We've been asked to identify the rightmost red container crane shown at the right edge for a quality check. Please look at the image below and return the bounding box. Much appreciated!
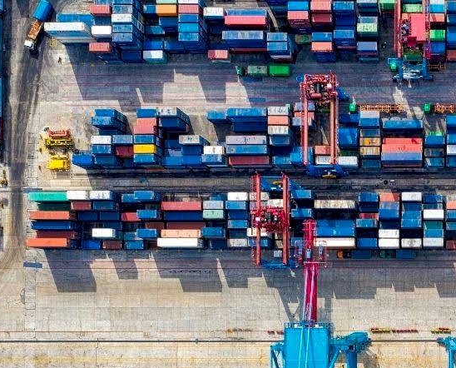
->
[392,0,438,79]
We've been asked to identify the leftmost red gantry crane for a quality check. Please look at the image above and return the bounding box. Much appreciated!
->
[251,174,310,267]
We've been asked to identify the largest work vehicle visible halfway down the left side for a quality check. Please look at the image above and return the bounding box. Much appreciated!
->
[41,153,71,175]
